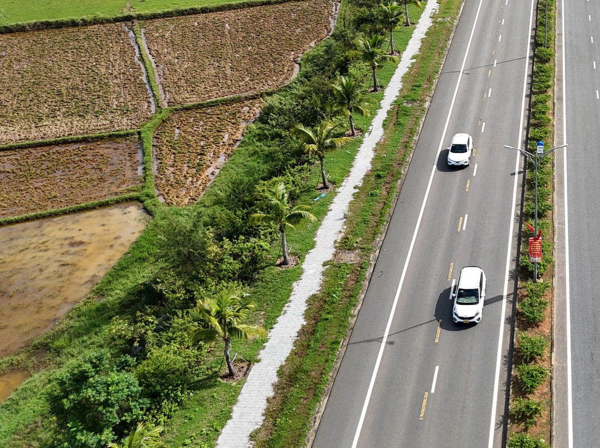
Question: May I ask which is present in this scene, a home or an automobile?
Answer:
automobile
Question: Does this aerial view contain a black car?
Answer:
No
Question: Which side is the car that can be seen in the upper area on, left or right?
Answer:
right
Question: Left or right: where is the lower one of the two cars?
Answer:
right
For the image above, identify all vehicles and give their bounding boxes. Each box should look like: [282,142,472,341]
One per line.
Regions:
[450,267,486,325]
[446,133,474,167]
